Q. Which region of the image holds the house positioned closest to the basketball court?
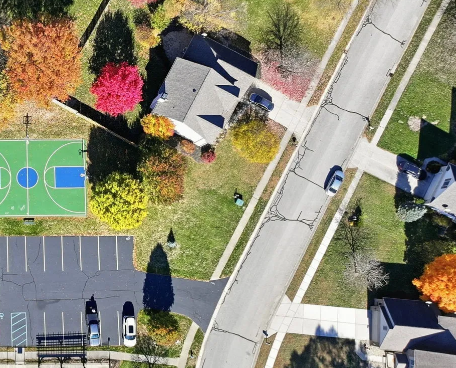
top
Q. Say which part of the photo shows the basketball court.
left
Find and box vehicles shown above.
[122,317,137,346]
[323,168,344,197]
[395,160,427,182]
[86,311,101,346]
[247,92,276,113]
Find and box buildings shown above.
[370,297,456,368]
[150,39,260,146]
[413,161,456,226]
